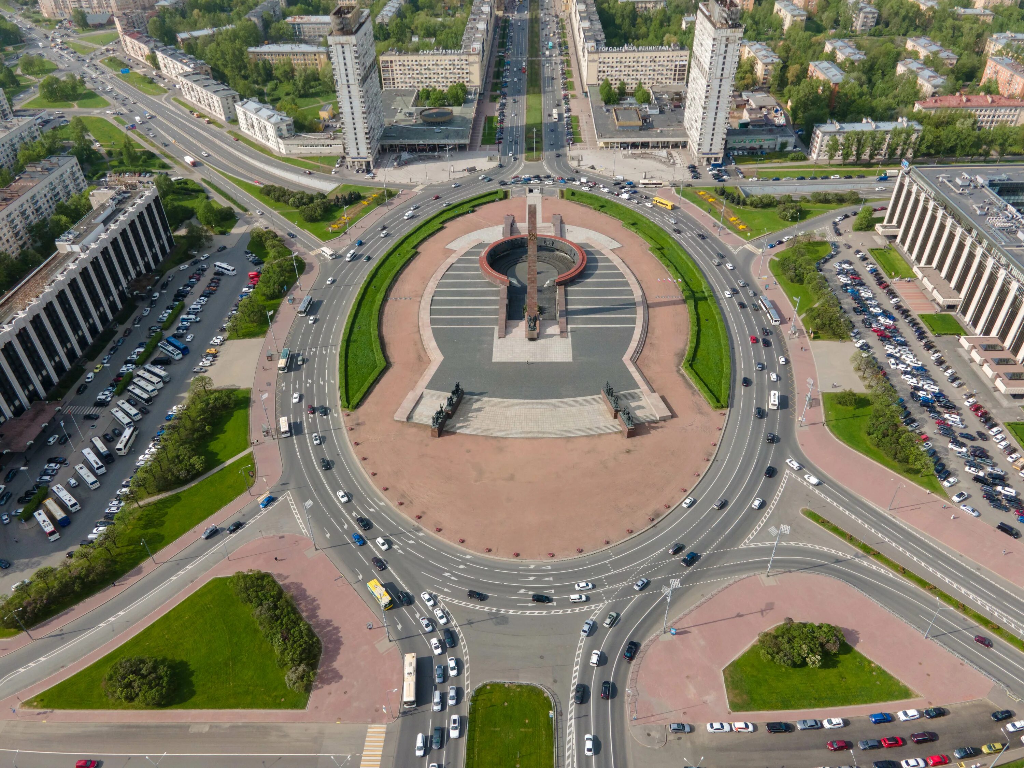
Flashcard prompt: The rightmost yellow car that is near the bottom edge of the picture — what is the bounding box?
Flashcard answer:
[979,742,1006,755]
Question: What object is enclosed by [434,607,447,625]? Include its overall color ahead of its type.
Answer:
white vehicle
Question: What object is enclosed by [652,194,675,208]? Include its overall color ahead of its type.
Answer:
yellow vehicle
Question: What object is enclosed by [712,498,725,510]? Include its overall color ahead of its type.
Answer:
gray vehicle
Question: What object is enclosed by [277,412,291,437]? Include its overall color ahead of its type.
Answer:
white vehicle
